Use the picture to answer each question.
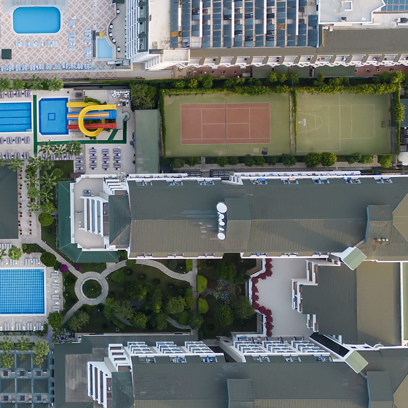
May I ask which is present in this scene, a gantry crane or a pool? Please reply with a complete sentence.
I can see a pool in this picture.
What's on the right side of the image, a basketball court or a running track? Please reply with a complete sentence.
There is a basketball court on the right side of the image.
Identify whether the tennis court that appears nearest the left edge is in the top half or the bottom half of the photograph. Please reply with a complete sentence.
The tennis court that appears nearest the left edge sits in the top half of the picture.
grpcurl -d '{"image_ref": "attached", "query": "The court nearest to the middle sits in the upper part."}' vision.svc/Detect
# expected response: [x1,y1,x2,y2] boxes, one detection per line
[164,92,290,156]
